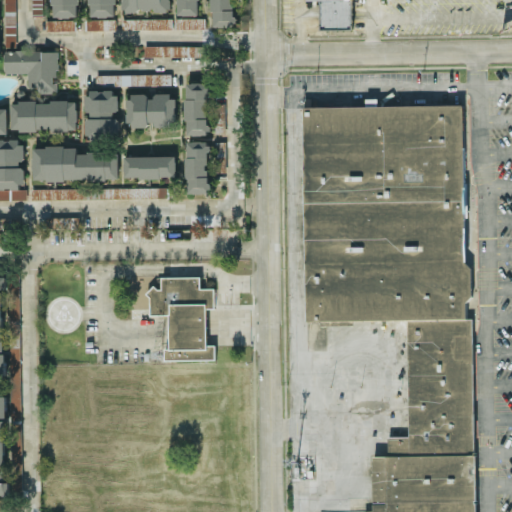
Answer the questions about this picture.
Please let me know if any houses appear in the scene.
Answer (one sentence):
Yes, you can see a house in this photo.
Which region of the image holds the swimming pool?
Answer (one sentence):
The swimming pool appears toward the top left of the photo.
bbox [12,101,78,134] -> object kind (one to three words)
house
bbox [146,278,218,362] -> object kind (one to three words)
building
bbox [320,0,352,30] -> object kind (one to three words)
building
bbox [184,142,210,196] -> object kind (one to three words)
house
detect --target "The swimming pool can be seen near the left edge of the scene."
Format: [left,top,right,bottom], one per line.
[0,76,24,108]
